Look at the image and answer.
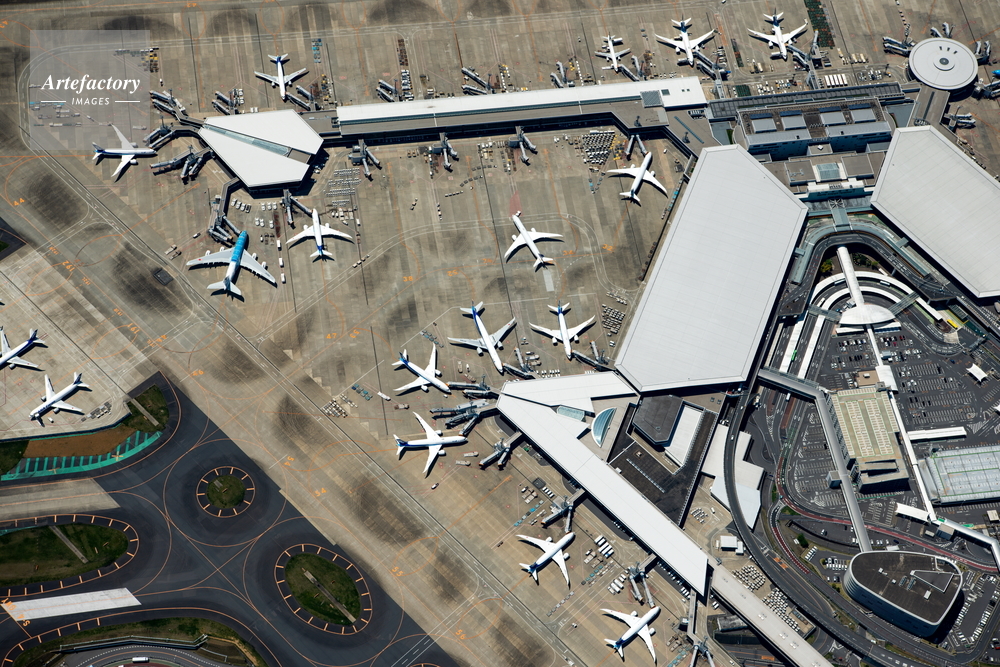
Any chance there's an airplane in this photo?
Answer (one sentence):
Yes, I can see an airplane in this picture.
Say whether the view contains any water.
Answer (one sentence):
No, water can't be seen anywhere here.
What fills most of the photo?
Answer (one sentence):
The largest share of the image is taken up by paved ground.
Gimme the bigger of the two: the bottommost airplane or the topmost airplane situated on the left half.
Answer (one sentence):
The bottommost airplane is bigger than the topmost airplane situated on the left half.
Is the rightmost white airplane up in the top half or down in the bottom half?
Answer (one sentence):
The rightmost white airplane is in the top half of the image.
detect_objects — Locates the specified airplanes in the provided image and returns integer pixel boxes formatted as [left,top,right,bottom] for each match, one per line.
[187,231,275,295]
[393,344,451,394]
[655,17,714,64]
[596,38,630,70]
[400,412,466,473]
[607,153,667,197]
[601,607,660,662]
[93,125,156,176]
[504,216,562,264]
[286,209,353,258]
[749,10,807,59]
[529,301,595,360]
[0,329,43,367]
[517,533,575,586]
[447,302,516,373]
[991,68,1000,75]
[30,373,88,418]
[255,54,305,100]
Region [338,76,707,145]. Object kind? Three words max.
building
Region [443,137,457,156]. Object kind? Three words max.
jet bridge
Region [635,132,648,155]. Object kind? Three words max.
jet bridge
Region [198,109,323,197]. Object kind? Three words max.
building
